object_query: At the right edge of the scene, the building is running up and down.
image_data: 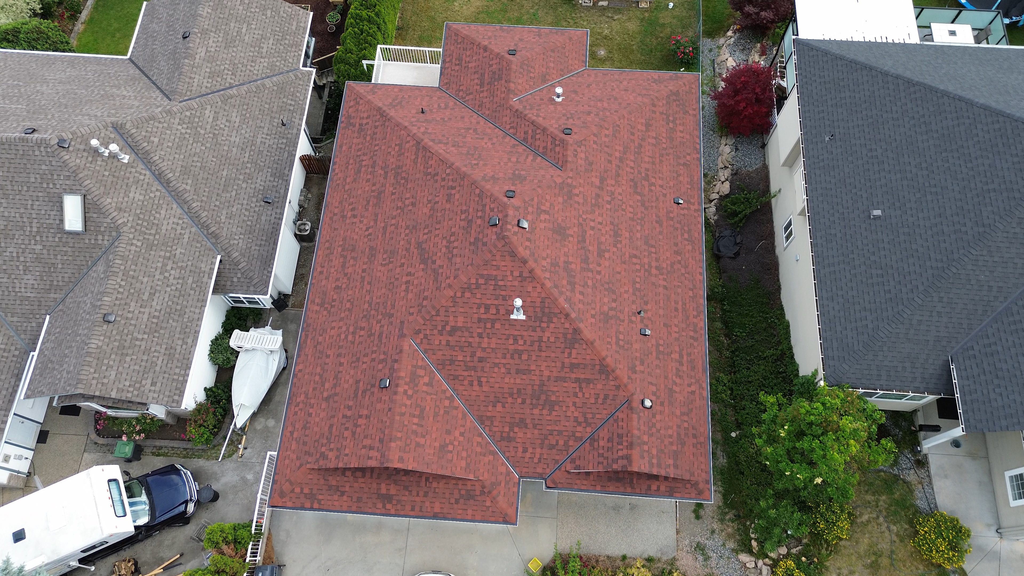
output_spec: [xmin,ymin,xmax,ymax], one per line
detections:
[766,0,1024,550]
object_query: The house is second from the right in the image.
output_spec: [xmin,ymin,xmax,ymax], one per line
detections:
[266,22,713,527]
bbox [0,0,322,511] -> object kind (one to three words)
house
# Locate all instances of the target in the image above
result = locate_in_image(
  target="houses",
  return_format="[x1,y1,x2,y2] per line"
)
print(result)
[0,0,322,511]
[766,0,1024,550]
[266,22,713,527]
